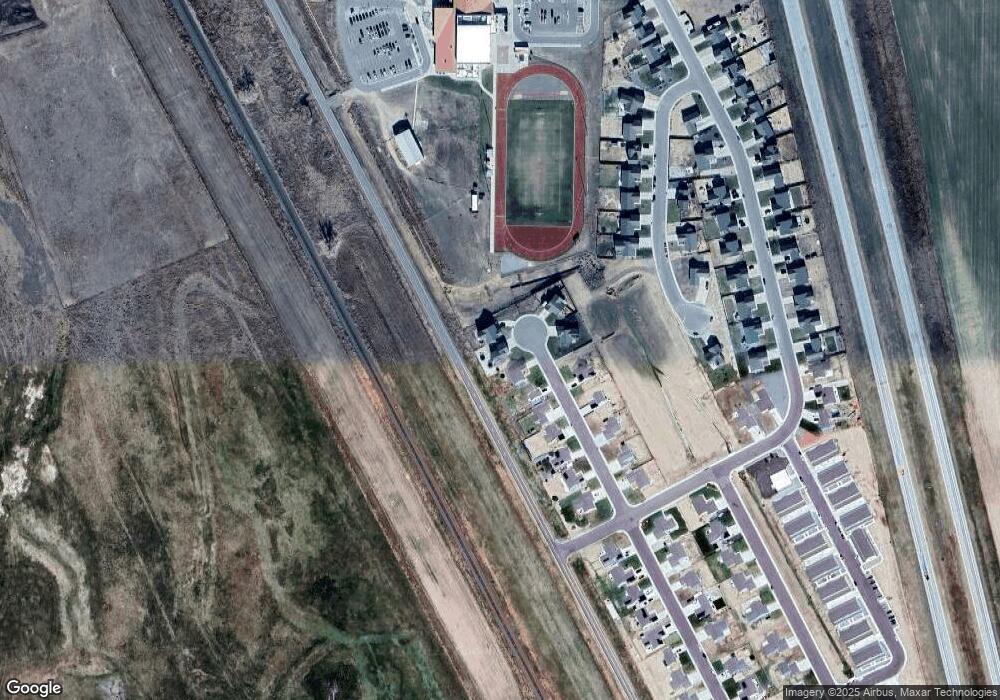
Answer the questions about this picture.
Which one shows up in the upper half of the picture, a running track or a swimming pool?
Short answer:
running track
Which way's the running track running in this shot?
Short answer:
from top to bottom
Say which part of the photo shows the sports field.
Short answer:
top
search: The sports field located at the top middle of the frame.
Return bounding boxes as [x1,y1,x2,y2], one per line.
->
[507,100,574,225]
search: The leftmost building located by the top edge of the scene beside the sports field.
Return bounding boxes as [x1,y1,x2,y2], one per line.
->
[434,0,502,75]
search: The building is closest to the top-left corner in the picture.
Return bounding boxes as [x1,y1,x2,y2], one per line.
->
[395,129,423,164]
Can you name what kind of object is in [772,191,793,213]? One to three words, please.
house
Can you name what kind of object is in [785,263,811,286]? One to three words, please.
house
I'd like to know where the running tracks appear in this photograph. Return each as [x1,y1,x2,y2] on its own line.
[496,64,585,262]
